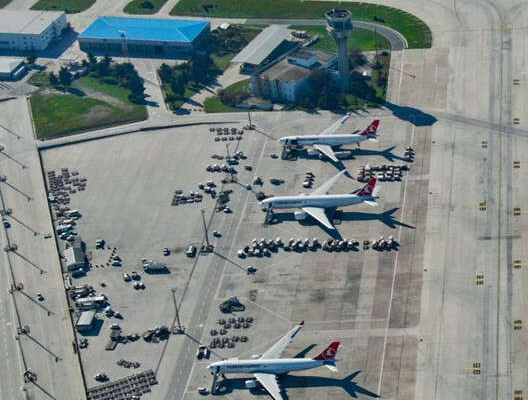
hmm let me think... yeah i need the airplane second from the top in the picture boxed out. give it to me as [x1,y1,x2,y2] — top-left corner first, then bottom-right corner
[257,169,375,226]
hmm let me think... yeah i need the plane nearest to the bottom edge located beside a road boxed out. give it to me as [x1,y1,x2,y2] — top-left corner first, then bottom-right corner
[208,318,338,400]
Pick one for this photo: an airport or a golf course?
airport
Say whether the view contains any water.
No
